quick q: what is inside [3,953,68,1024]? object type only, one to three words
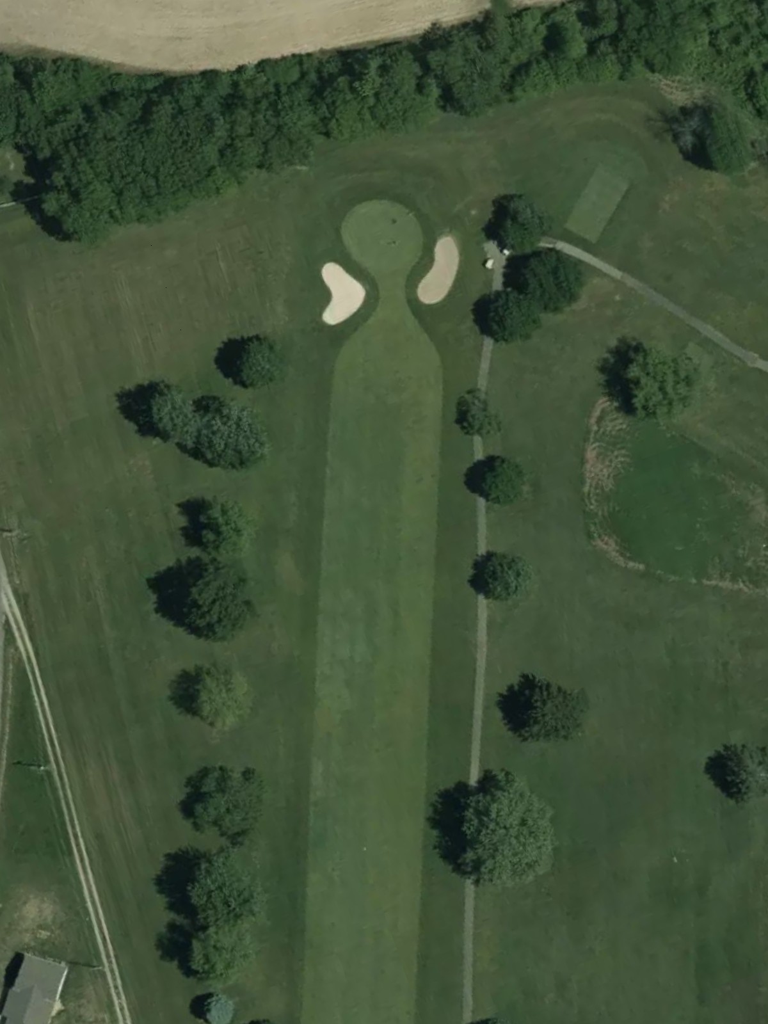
house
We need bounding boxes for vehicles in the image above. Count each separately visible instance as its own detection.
[502,246,511,256]
[485,257,494,269]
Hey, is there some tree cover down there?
Yes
